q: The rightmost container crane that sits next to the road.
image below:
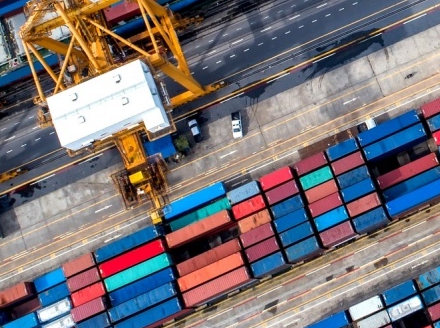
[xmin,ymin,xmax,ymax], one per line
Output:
[9,0,224,222]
